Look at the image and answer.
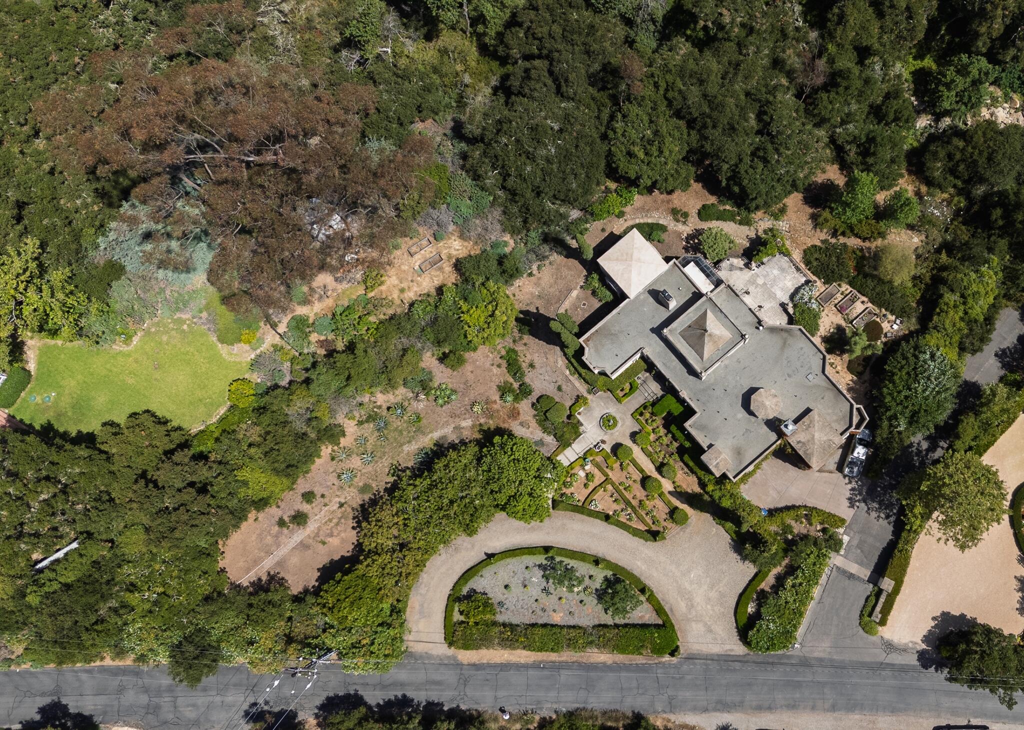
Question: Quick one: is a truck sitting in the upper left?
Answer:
No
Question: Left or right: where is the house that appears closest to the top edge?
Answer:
right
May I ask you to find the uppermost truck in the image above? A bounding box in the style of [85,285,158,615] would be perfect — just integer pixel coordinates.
[844,428,874,479]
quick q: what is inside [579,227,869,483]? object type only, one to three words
house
